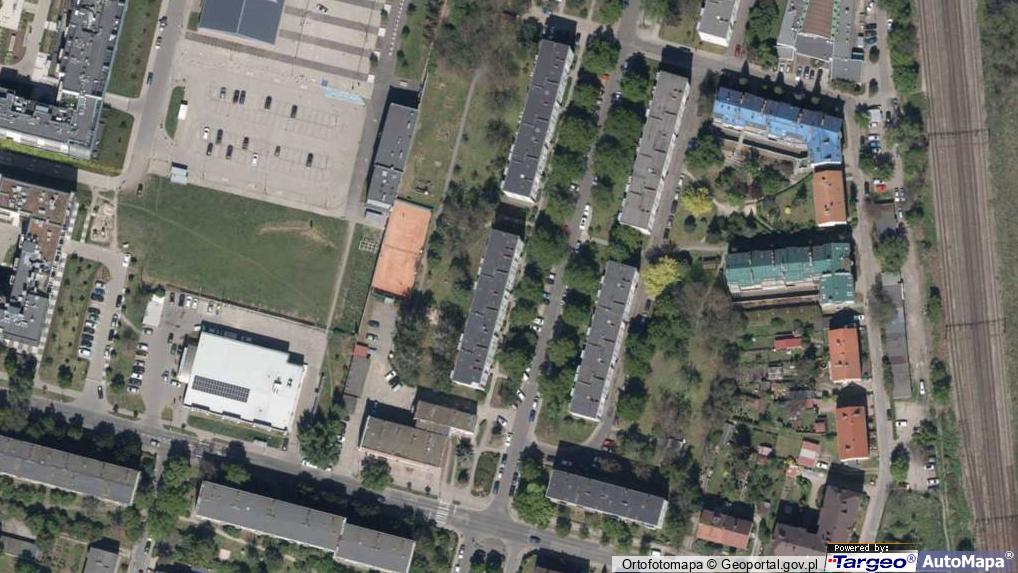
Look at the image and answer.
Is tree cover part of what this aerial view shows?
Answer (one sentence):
Yes, tree cover shows up in the scene.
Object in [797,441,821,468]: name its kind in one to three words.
shed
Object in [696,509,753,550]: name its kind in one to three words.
house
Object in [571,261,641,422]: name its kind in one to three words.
building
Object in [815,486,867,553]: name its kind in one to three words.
house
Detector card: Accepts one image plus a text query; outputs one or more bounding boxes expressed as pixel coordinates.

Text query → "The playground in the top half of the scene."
[88,196,114,246]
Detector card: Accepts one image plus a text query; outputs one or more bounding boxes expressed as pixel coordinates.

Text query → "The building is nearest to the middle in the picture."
[451,228,526,390]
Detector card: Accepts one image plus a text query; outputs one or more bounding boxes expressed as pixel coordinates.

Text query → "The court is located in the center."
[373,199,431,296]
